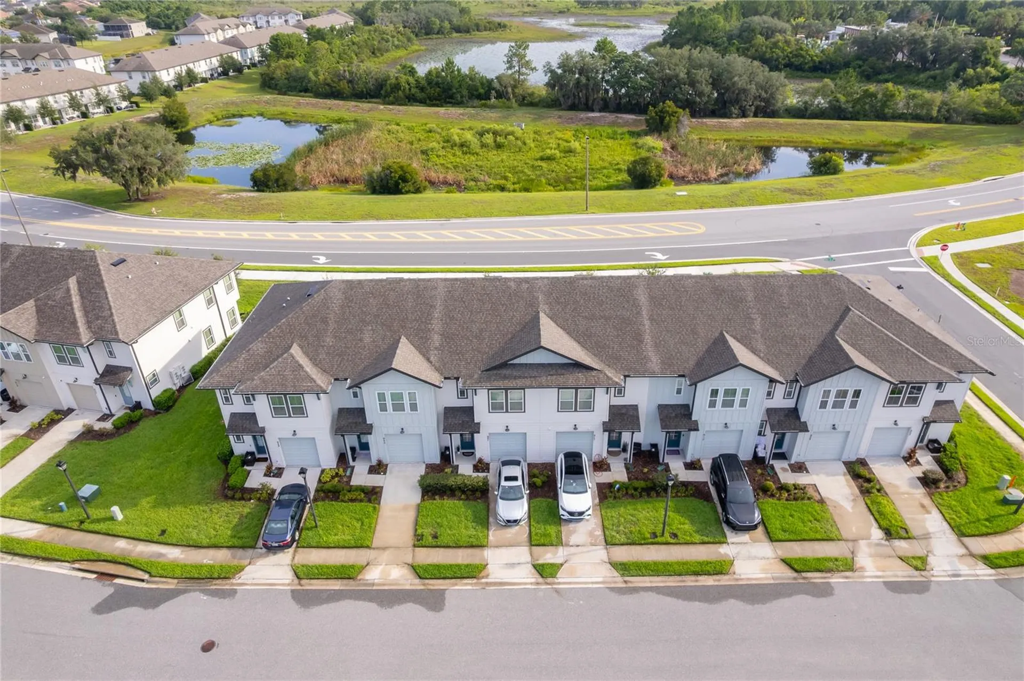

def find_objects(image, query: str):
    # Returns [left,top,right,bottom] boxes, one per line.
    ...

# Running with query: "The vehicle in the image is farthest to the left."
[263,481,311,545]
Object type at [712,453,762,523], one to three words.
car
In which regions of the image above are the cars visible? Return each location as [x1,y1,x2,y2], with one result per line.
[263,481,311,545]
[712,453,762,523]
[556,452,594,516]
[493,458,530,522]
